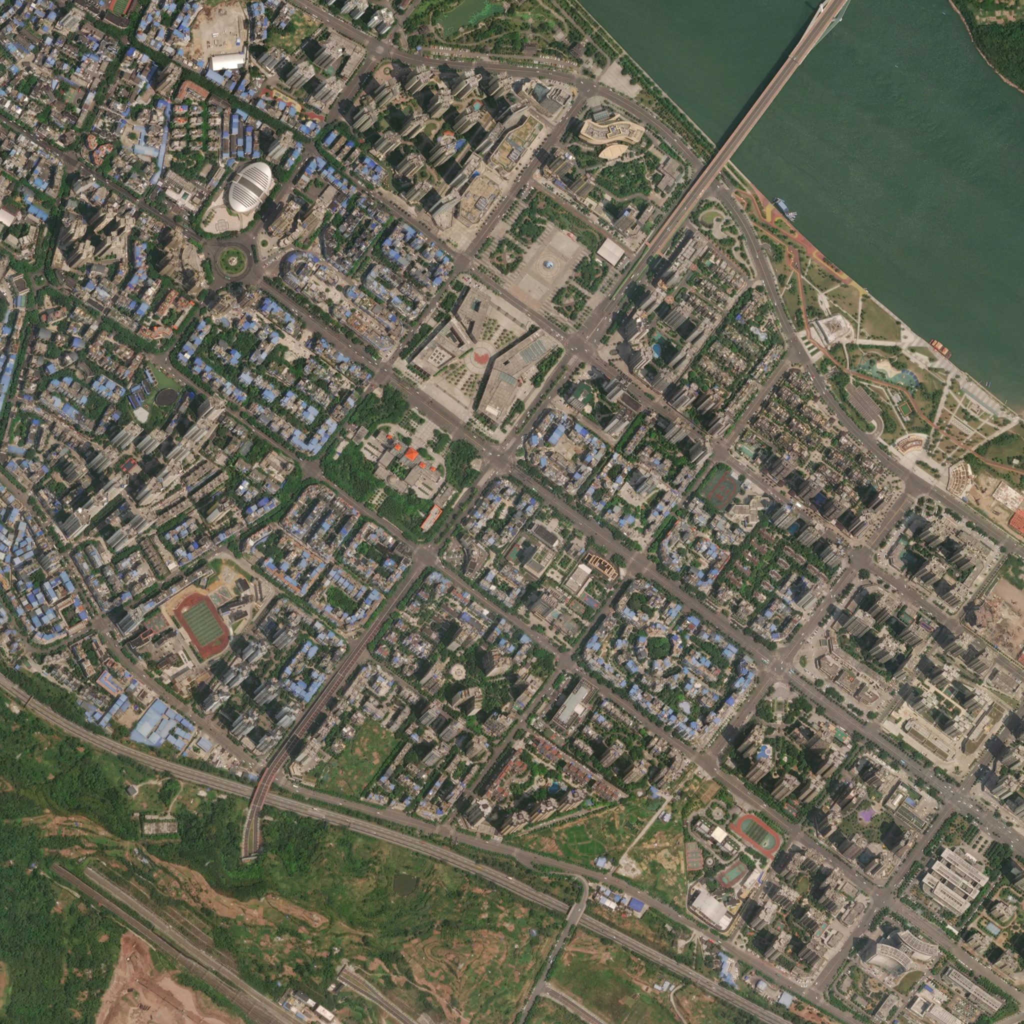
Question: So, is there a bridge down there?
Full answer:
Yes, there's a bridge down there.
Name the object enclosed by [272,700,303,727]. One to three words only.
building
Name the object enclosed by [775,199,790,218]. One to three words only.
ship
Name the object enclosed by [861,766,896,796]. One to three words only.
building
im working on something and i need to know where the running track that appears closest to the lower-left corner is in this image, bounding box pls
[174,592,230,659]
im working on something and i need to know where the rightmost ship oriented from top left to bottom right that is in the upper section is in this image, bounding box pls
[930,340,951,358]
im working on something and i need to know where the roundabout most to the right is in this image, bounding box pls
[210,237,257,284]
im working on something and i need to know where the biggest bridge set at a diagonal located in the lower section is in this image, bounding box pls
[241,596,397,858]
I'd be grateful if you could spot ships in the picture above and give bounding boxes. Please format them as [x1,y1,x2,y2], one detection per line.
[775,199,790,218]
[930,340,951,358]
